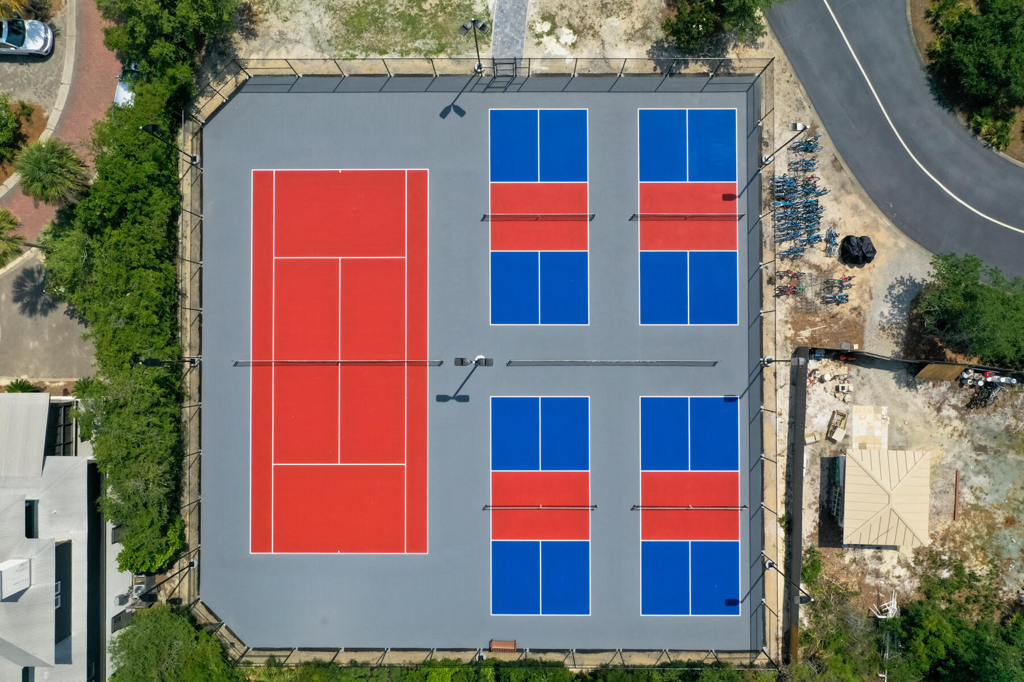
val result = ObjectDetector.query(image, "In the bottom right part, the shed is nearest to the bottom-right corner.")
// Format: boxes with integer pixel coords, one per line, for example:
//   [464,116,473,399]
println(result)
[831,449,931,548]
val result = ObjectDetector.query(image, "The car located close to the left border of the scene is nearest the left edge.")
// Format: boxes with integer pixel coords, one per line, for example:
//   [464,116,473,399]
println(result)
[0,18,56,56]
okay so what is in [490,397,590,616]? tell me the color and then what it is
blue sports court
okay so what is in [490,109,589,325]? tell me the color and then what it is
blue sports court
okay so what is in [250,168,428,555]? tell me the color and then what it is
red tennis court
